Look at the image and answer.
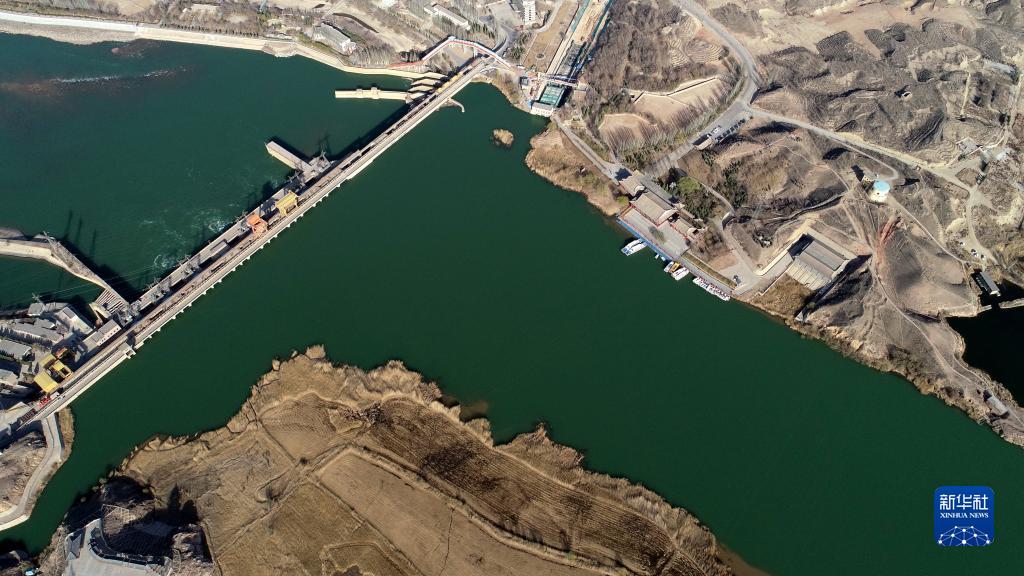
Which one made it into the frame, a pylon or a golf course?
pylon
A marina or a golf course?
marina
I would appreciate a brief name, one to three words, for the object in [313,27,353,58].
building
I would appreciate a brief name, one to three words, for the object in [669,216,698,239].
building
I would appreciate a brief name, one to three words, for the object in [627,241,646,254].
boat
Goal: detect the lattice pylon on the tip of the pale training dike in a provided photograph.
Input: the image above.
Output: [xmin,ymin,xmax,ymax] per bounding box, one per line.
[36,230,60,254]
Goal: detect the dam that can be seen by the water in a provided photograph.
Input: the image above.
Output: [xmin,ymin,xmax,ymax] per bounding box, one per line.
[9,53,496,438]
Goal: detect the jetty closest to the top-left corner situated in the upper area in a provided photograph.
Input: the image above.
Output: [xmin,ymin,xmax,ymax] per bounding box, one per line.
[267,143,309,174]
